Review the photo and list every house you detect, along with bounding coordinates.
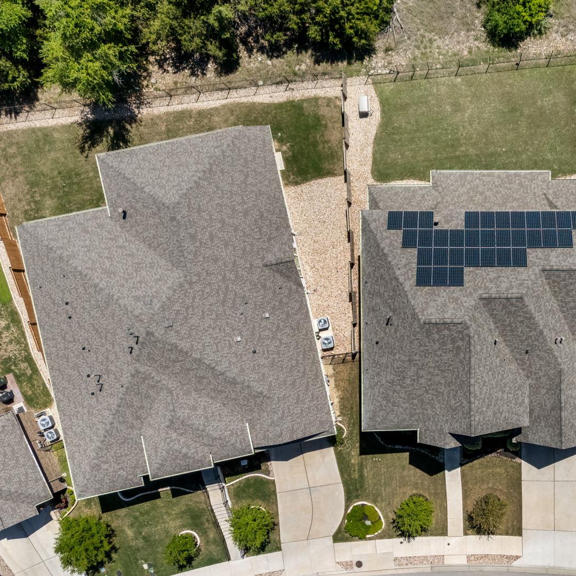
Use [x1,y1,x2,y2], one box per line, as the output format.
[14,123,339,501]
[359,169,576,448]
[0,391,70,529]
